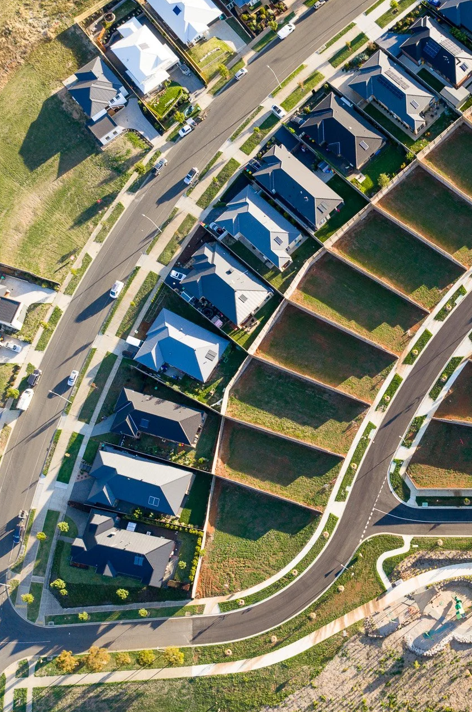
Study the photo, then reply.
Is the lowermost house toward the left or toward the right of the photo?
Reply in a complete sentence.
It is on the left.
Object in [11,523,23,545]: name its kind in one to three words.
vehicle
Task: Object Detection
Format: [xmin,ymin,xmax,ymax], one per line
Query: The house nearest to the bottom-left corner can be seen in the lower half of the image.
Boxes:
[68,509,178,590]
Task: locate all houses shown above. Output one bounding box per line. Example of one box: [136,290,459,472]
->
[0,297,24,324]
[251,142,342,229]
[437,0,472,37]
[68,509,178,590]
[178,241,272,328]
[214,185,304,272]
[60,56,134,121]
[83,450,194,518]
[110,14,180,98]
[398,12,472,90]
[226,0,263,14]
[132,307,229,384]
[149,0,224,49]
[299,90,387,171]
[347,52,437,134]
[109,387,209,447]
